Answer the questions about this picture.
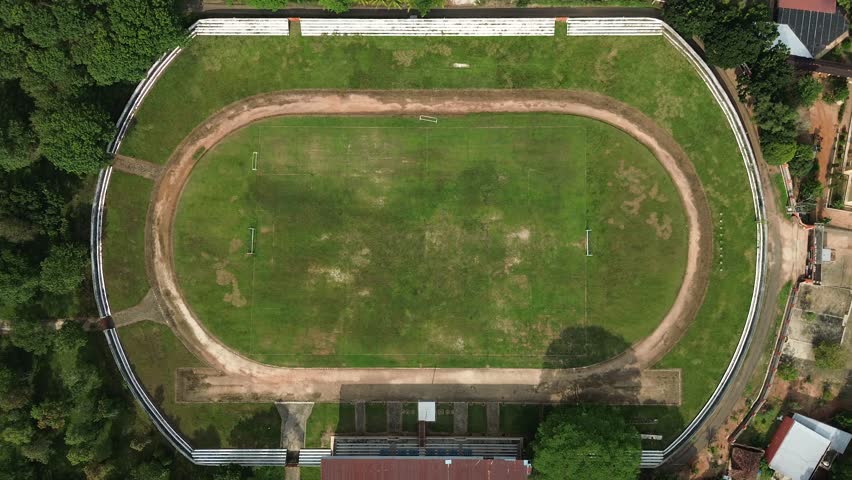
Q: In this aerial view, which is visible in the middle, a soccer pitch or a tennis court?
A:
soccer pitch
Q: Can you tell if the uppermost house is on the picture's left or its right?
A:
right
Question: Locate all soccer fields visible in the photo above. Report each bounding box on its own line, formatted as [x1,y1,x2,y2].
[252,126,587,355]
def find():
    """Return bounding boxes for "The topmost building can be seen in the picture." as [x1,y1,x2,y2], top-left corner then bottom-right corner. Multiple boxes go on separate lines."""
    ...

[760,0,850,59]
